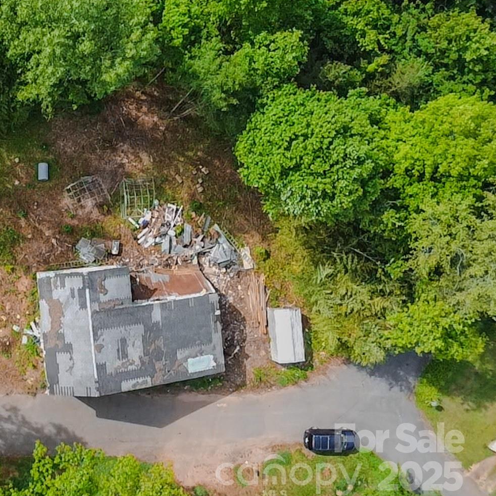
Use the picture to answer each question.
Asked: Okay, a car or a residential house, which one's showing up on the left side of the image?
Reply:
residential house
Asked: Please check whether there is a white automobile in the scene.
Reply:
No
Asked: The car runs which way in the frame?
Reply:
horizontally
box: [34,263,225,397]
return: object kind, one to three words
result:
house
